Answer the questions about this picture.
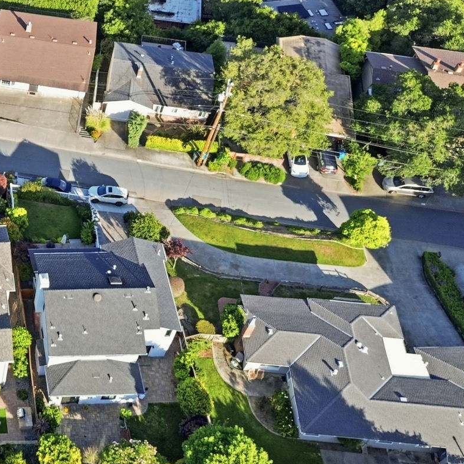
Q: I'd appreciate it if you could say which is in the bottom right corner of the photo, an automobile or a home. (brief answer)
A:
home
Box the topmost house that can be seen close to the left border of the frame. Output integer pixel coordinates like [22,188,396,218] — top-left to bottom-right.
[0,9,97,106]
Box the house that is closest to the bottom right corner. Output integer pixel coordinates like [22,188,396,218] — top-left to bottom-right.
[235,295,464,464]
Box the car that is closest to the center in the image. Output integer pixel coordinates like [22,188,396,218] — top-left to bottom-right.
[289,148,309,176]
